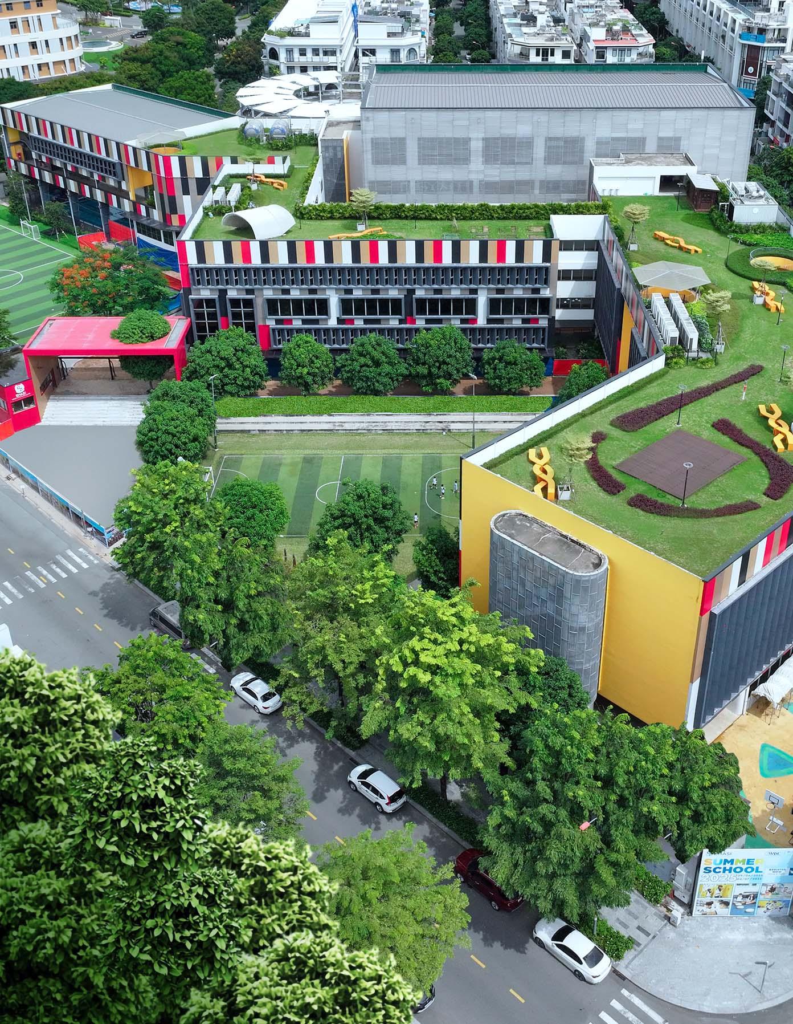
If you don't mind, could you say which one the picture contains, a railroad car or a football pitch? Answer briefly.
football pitch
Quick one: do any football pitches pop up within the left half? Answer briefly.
Yes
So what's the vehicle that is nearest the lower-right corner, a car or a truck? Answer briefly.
car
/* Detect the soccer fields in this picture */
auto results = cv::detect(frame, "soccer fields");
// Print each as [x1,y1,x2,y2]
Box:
[0,226,82,349]
[222,455,462,535]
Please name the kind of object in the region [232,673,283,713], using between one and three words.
car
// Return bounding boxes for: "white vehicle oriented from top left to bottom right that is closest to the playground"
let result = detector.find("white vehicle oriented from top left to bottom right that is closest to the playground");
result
[537,918,612,982]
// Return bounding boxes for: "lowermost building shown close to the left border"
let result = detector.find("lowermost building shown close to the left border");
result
[0,372,39,431]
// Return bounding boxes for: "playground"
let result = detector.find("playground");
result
[709,692,793,849]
